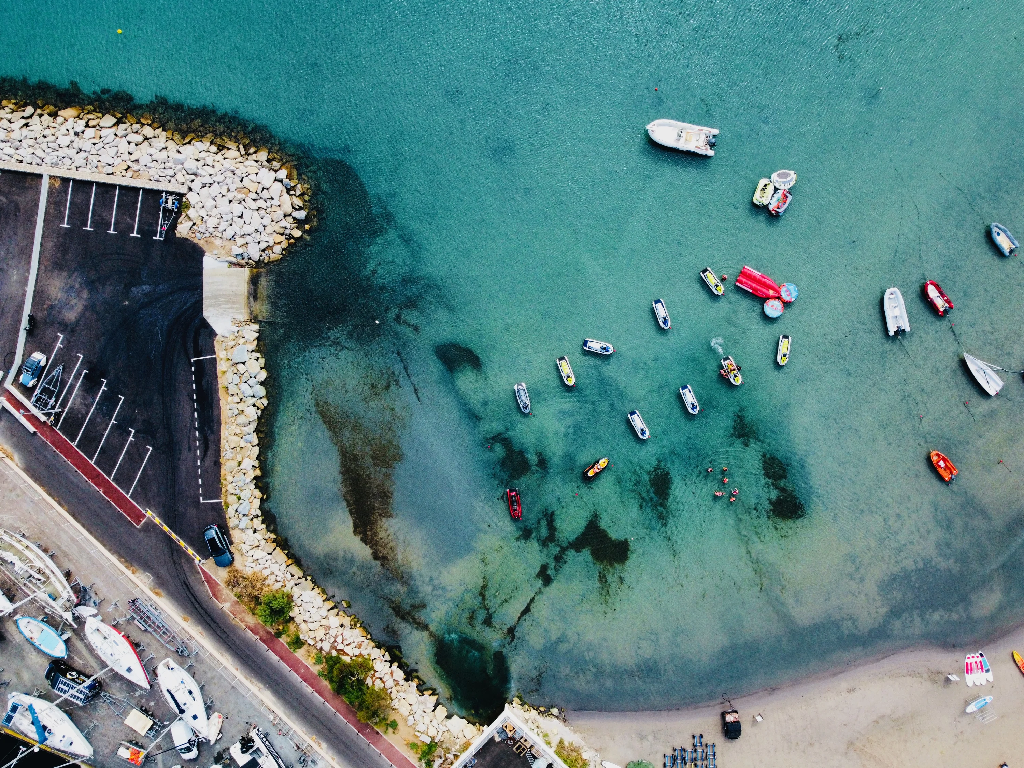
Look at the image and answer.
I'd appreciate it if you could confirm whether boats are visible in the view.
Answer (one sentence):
Yes, this view includes a boat.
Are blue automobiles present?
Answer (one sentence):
Yes, you can see a blue automobile in this photo.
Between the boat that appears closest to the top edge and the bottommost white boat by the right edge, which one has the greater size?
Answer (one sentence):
The boat that appears closest to the top edge is larger than the bottommost white boat by the right edge.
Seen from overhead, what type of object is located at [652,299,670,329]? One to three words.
boat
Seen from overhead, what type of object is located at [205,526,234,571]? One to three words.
car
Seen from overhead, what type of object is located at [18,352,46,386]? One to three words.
car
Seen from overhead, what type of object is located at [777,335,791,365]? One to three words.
boat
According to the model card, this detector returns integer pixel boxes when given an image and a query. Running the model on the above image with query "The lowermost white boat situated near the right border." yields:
[963,353,1015,394]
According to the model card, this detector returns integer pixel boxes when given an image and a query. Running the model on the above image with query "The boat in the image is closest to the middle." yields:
[515,383,531,413]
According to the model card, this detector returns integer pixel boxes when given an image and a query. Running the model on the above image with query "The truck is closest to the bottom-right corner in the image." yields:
[721,706,743,739]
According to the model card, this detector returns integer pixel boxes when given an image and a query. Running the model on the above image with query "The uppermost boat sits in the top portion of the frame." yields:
[643,117,719,155]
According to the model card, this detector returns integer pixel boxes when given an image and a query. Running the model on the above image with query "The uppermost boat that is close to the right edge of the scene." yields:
[990,221,1019,255]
